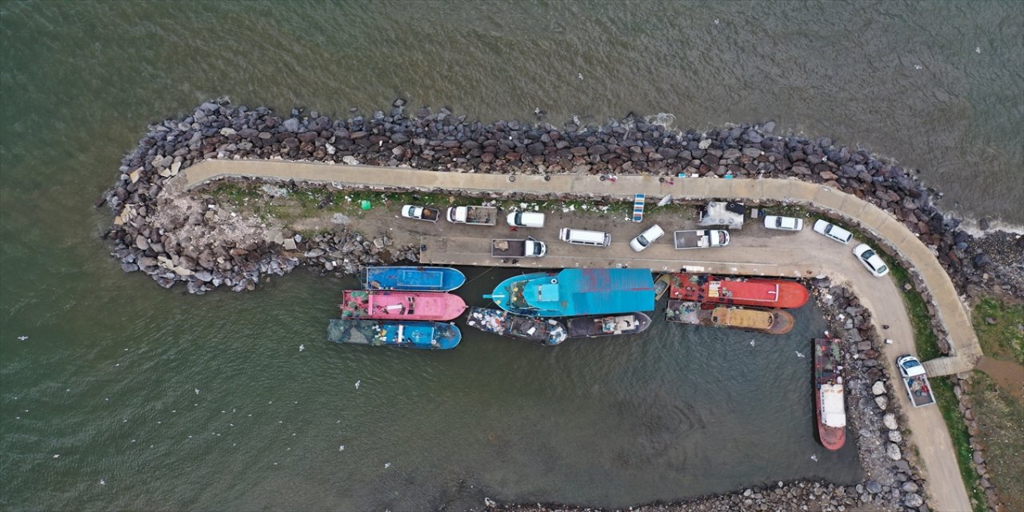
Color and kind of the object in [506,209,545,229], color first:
white vehicle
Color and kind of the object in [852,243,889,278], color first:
white car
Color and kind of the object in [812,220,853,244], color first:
white car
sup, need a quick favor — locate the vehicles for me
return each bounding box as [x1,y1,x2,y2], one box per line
[401,203,440,222]
[812,220,853,244]
[897,354,940,408]
[629,225,666,252]
[447,205,497,226]
[492,232,547,258]
[559,227,611,248]
[852,243,889,278]
[675,228,730,250]
[763,214,804,233]
[506,209,545,229]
